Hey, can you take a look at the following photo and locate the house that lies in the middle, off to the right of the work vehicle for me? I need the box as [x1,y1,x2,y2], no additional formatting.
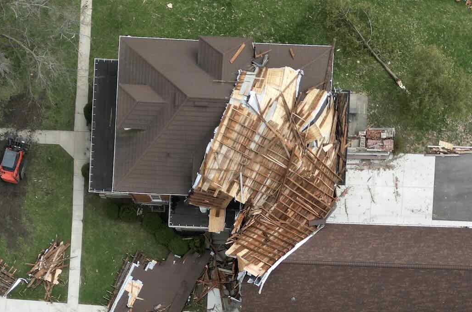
[88,34,351,248]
